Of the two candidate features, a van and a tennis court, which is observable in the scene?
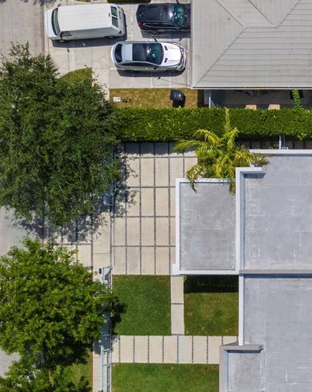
van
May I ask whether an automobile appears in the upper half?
Yes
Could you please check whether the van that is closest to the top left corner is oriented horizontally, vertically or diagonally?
horizontally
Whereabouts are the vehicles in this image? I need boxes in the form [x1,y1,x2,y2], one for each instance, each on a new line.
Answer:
[141,1,190,38]
[48,2,130,43]
[114,39,188,76]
